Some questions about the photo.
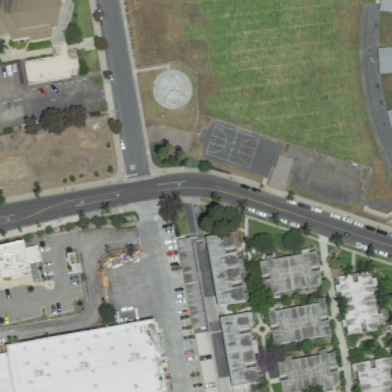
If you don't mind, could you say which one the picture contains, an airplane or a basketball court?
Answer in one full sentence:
Of the two, only a basketball court appears.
